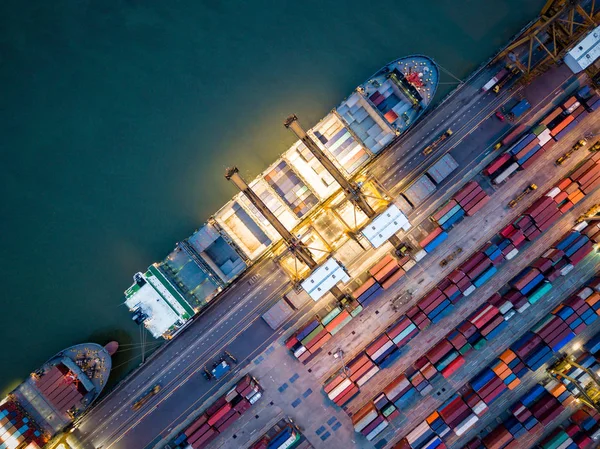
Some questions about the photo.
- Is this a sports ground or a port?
port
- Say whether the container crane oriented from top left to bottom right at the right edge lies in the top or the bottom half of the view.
bottom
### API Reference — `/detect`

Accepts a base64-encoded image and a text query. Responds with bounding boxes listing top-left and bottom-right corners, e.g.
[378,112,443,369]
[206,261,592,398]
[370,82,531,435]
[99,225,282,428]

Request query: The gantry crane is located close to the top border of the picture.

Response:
[490,0,600,89]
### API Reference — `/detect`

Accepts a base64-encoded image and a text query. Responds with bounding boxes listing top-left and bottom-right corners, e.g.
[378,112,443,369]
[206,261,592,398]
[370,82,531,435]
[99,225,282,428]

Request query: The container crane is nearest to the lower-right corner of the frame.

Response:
[547,353,600,414]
